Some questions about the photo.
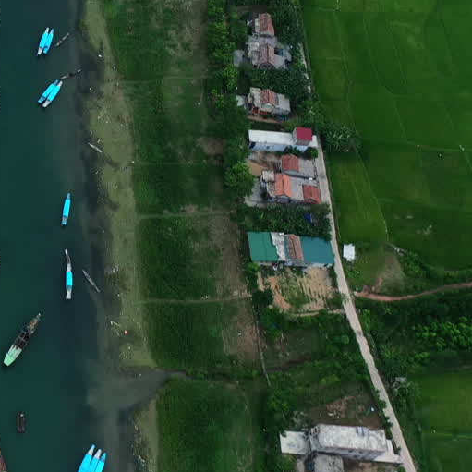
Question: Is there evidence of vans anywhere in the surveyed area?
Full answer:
No, there appears to be no van in this shot.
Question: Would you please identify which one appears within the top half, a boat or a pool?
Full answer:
The feature located within the top half is a boat.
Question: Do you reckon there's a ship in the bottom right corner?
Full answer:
No, I see no ship in the bottom right corner.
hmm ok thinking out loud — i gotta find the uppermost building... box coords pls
[255,10,274,36]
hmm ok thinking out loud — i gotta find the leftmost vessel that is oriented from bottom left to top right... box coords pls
[3,313,40,367]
